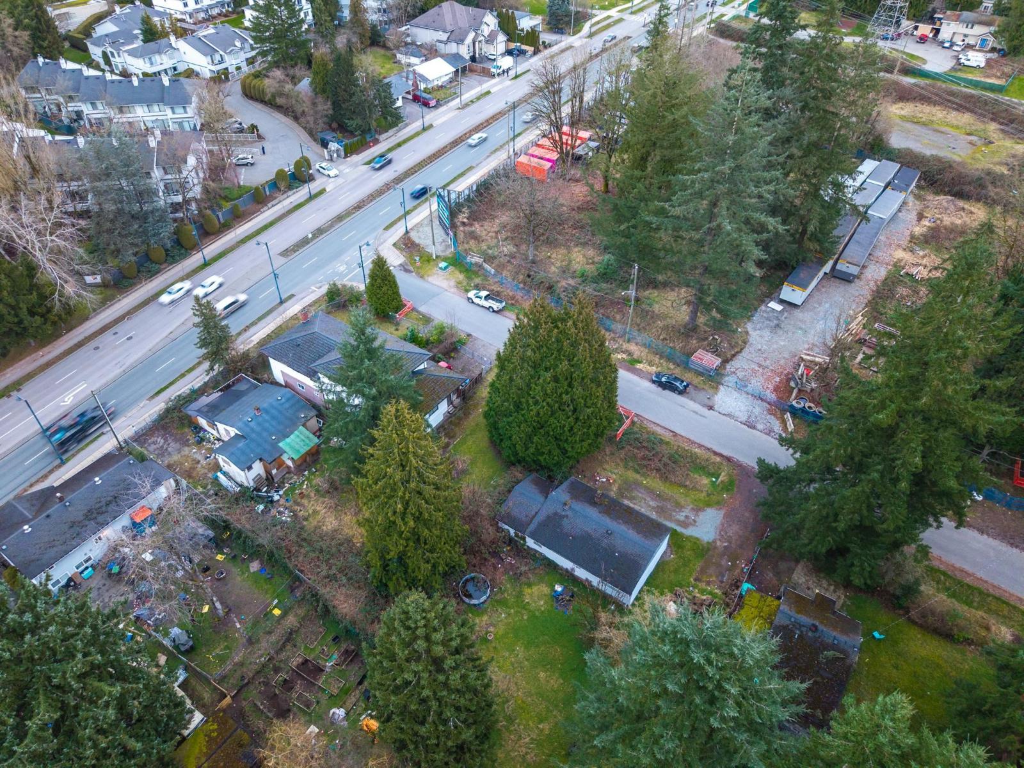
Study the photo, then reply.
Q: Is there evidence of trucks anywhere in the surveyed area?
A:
Yes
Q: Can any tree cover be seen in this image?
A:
Yes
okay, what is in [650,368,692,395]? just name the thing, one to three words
car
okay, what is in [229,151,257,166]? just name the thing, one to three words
car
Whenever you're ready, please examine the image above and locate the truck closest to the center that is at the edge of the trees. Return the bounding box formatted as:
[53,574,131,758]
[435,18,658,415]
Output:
[465,286,506,312]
